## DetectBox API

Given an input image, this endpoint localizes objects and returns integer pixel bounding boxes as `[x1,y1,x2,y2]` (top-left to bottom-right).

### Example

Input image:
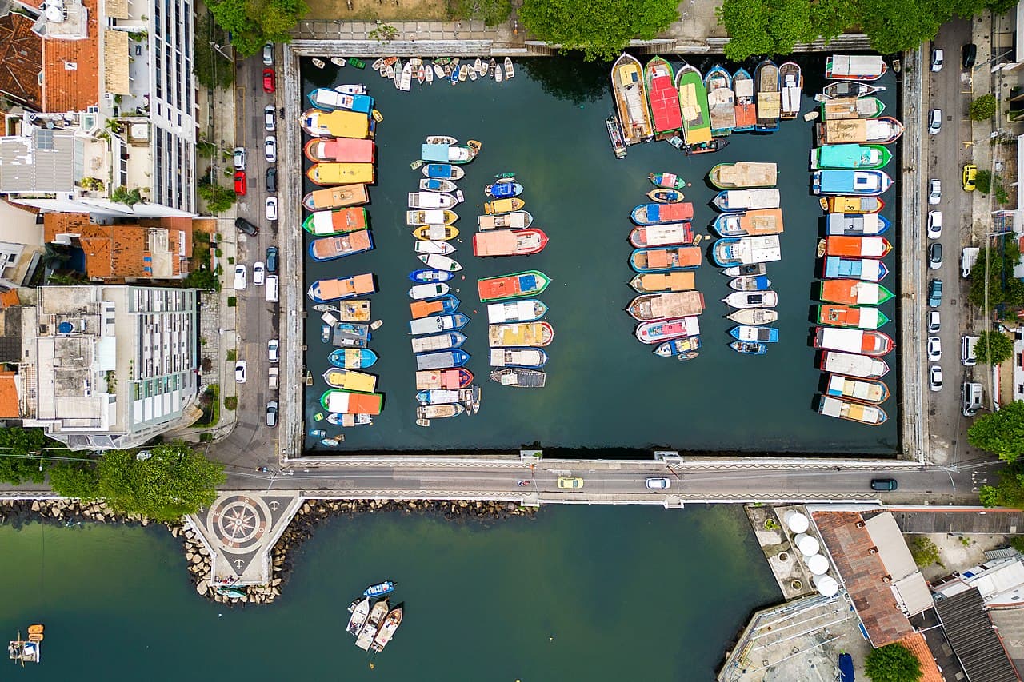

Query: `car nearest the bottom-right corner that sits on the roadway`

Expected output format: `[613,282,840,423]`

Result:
[869,478,898,492]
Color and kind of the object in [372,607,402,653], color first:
white boat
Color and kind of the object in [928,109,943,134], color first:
white car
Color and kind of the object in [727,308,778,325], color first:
white boat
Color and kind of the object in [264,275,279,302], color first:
white vehicle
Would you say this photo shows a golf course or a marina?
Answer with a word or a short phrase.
marina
